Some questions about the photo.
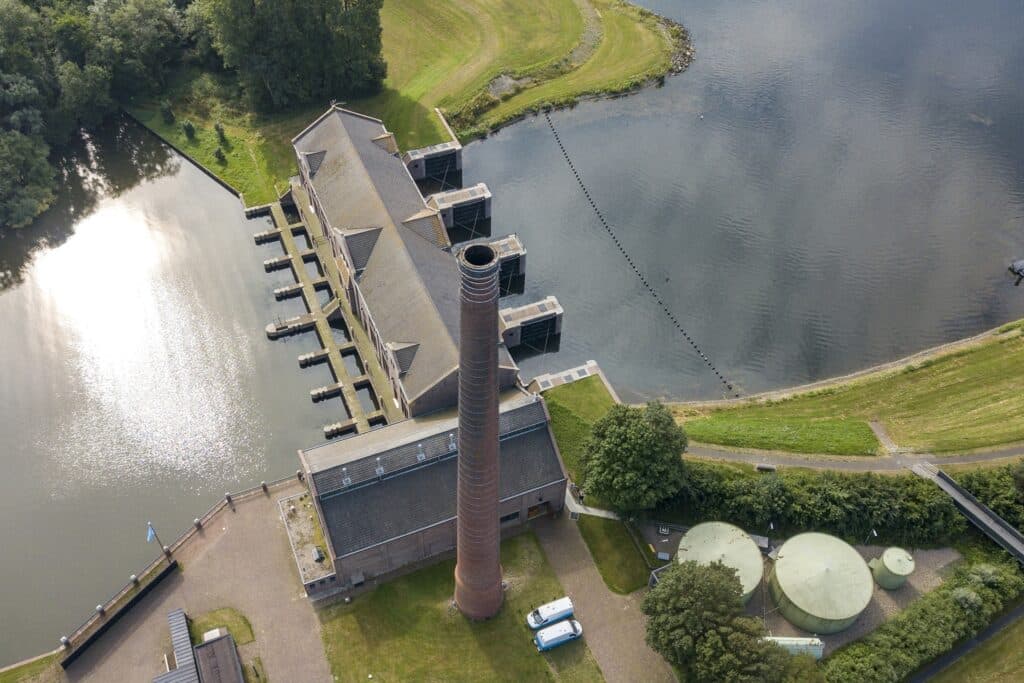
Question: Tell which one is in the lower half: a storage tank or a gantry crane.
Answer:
storage tank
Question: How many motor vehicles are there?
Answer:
2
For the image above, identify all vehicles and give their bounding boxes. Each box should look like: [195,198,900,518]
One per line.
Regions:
[527,594,574,627]
[536,617,583,648]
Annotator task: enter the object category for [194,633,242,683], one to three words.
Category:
shed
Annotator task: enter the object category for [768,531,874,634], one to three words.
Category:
storage tank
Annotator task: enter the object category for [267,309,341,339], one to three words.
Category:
pier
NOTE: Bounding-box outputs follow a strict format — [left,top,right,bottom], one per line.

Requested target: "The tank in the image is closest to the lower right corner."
[873,546,915,590]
